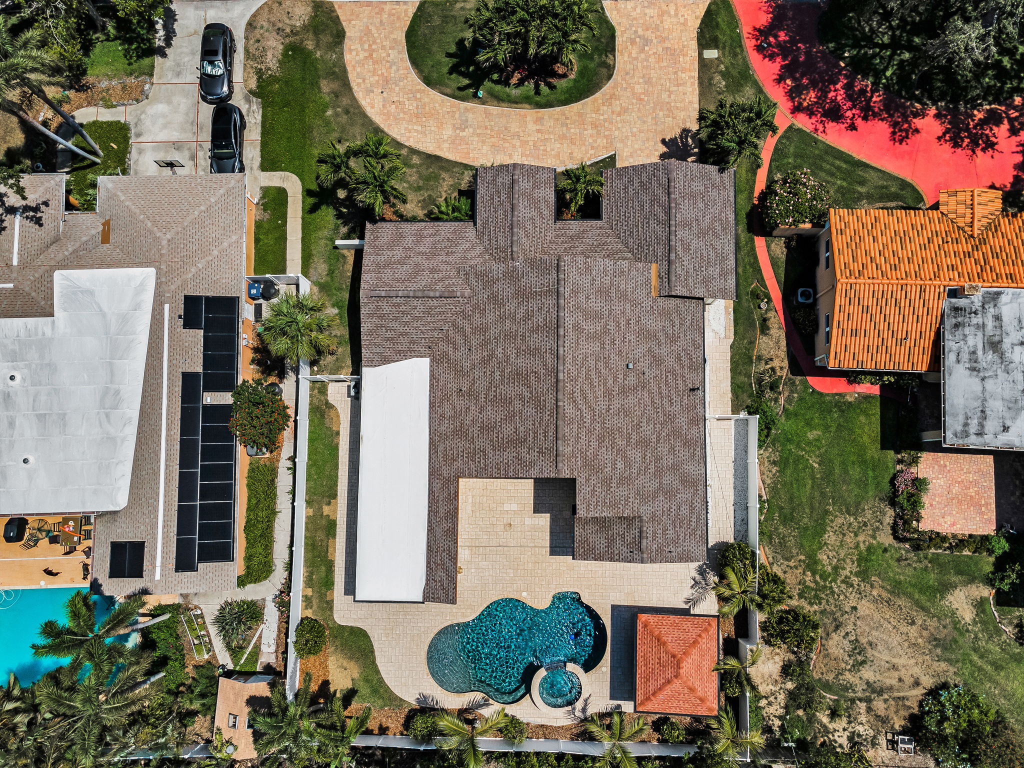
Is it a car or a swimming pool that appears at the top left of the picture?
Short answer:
car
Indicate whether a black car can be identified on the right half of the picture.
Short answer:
No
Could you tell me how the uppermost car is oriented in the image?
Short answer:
up and down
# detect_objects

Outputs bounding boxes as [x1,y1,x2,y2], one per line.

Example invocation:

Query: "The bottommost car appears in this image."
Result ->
[207,106,249,176]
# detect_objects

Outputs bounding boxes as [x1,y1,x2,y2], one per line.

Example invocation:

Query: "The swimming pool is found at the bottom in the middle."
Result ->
[422,586,612,719]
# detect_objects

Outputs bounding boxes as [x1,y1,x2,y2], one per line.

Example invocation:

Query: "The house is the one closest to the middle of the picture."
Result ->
[353,160,739,604]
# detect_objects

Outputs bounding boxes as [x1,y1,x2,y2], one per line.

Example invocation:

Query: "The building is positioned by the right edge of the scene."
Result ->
[816,188,1024,452]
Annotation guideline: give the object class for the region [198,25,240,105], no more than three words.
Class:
car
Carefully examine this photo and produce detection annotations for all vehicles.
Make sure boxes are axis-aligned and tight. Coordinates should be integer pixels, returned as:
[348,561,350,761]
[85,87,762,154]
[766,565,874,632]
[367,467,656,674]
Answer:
[207,106,249,176]
[198,25,240,105]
